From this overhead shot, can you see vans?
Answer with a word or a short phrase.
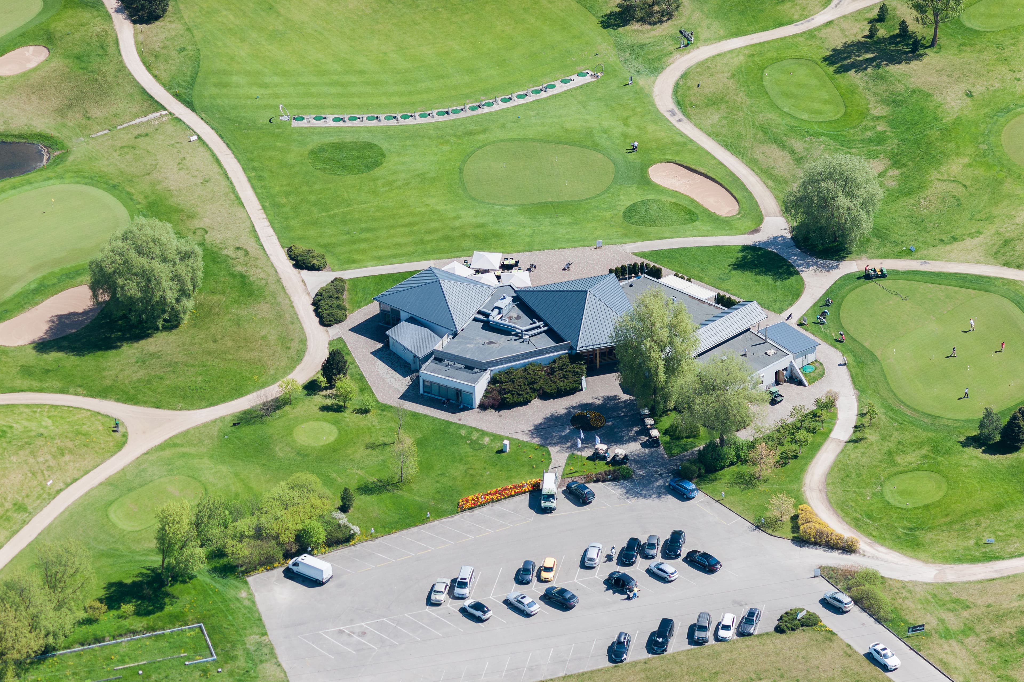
Yes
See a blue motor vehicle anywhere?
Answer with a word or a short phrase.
Yes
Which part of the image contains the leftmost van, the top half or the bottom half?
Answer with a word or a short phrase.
bottom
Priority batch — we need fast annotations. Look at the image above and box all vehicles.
[517,561,538,586]
[562,483,600,506]
[665,530,688,561]
[539,466,559,515]
[543,588,582,612]
[819,592,857,617]
[504,593,543,617]
[738,607,761,638]
[642,536,662,561]
[592,444,611,464]
[460,600,495,623]
[864,644,905,673]
[766,384,787,405]
[605,571,640,594]
[539,558,559,583]
[690,612,714,645]
[865,267,888,279]
[429,579,452,607]
[611,448,628,465]
[452,565,476,599]
[285,553,332,587]
[607,631,631,664]
[647,562,682,584]
[583,544,604,570]
[666,479,702,502]
[715,613,738,644]
[620,537,643,567]
[649,430,661,450]
[685,551,725,575]
[649,618,673,655]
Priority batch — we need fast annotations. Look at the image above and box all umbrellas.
[470,251,502,272]
[440,261,475,278]
[466,272,499,286]
[500,271,532,288]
